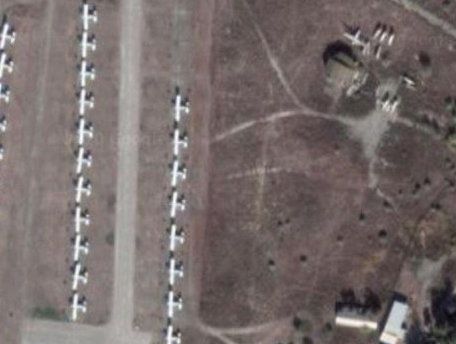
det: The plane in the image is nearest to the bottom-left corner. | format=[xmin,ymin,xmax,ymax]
[70,295,86,321]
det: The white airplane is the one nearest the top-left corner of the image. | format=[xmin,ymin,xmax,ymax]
[0,23,15,48]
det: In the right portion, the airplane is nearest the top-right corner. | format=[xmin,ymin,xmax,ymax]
[344,30,365,45]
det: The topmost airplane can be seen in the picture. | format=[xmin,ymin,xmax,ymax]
[80,4,96,30]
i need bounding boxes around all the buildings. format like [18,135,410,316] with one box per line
[335,311,377,328]
[379,301,408,344]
